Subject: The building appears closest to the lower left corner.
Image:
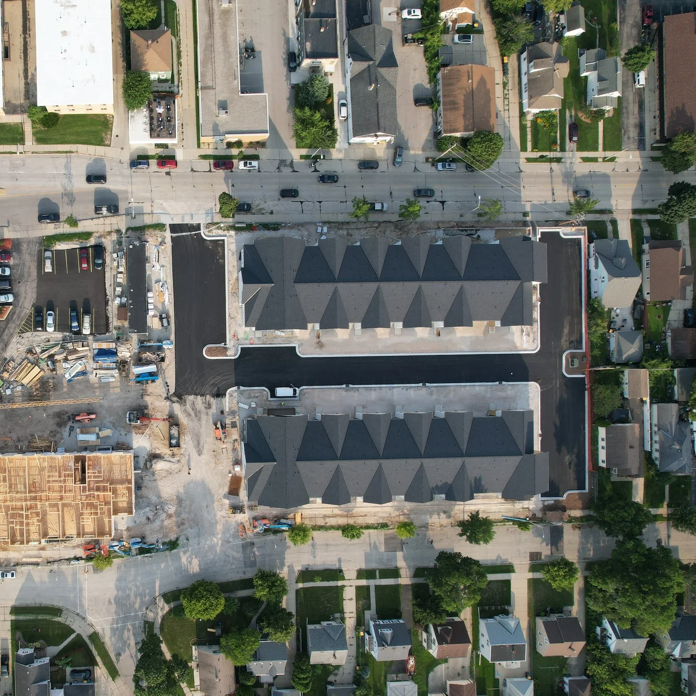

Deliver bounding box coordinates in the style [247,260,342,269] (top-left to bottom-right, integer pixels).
[14,646,51,696]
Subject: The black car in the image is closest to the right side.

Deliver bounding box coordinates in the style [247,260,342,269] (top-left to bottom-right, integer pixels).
[682,308,695,328]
